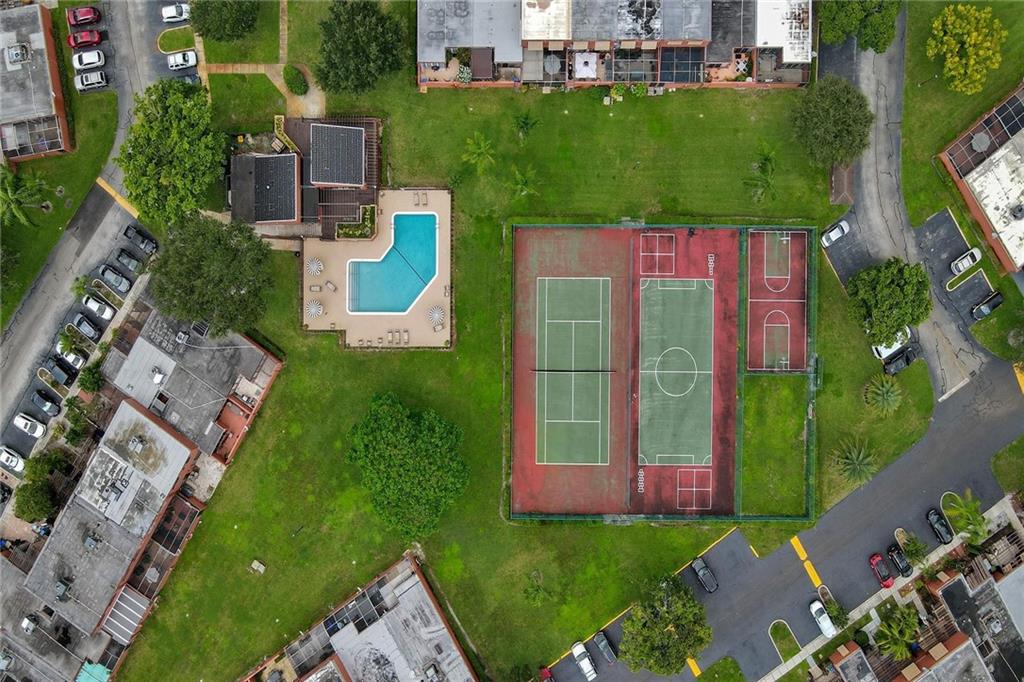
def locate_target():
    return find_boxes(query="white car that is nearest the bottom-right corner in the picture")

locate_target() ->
[810,599,837,638]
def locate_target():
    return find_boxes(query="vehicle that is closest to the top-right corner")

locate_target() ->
[949,247,981,274]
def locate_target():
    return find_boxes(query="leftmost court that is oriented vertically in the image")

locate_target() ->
[511,227,632,515]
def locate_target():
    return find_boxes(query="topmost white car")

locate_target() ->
[159,2,194,24]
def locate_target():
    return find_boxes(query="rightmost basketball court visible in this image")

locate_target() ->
[745,226,815,374]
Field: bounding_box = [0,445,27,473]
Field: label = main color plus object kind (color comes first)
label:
white car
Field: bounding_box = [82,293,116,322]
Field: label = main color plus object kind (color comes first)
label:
white car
